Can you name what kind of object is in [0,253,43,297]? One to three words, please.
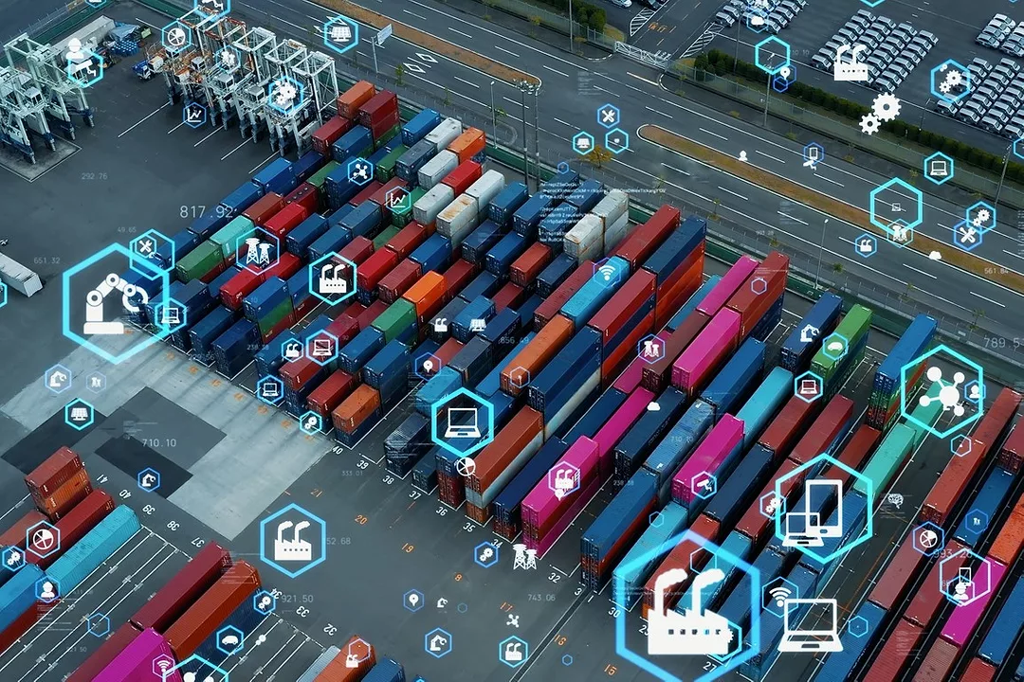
shipping container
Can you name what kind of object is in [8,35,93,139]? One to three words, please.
work vehicle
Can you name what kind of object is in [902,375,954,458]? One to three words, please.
shipping container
